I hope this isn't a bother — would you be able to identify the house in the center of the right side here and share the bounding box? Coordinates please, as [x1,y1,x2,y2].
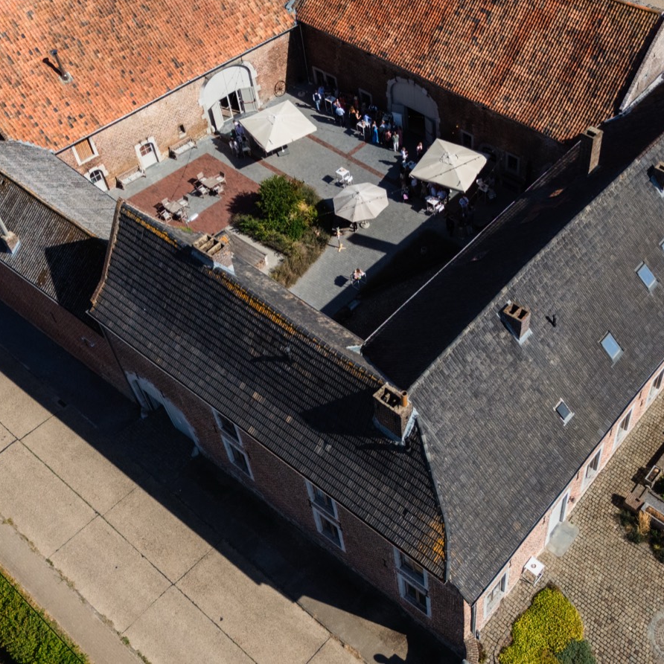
[365,88,664,647]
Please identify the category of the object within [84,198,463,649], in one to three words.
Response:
house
